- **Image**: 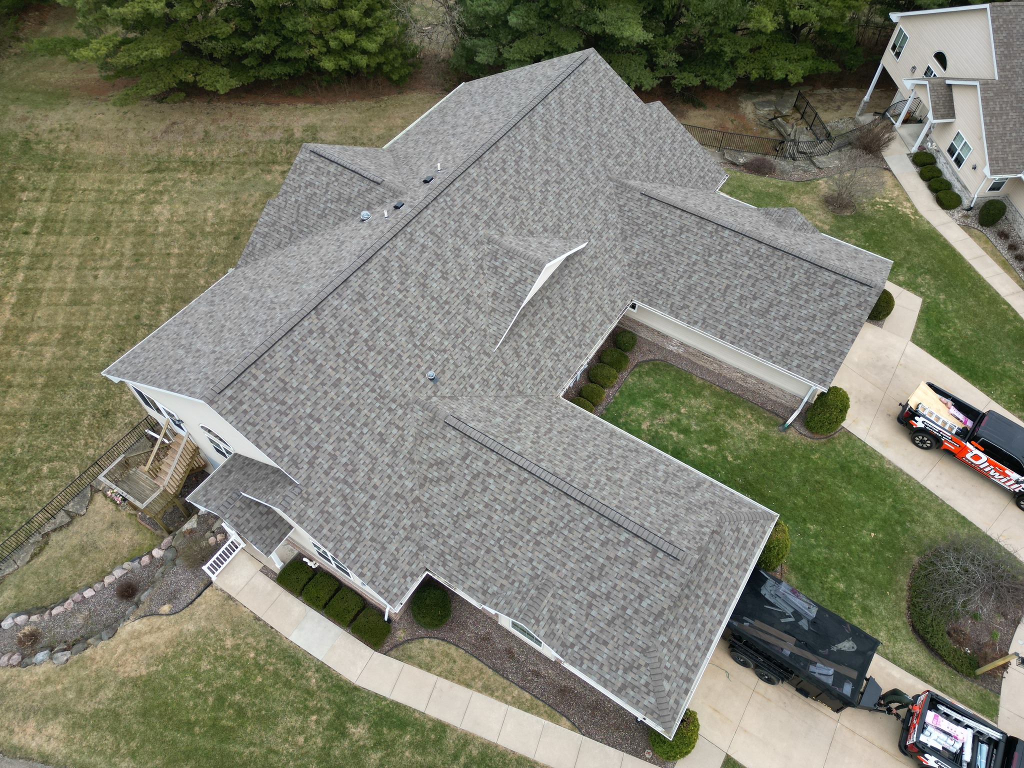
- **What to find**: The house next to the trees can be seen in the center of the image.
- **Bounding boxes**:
[101,49,894,741]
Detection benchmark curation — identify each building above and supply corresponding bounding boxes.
[101,49,894,741]
[856,3,1024,247]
